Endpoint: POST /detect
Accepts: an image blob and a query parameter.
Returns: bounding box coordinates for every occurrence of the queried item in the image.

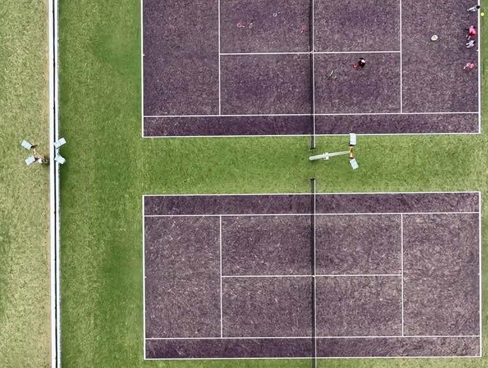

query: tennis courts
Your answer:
[143,192,482,361]
[141,0,481,138]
